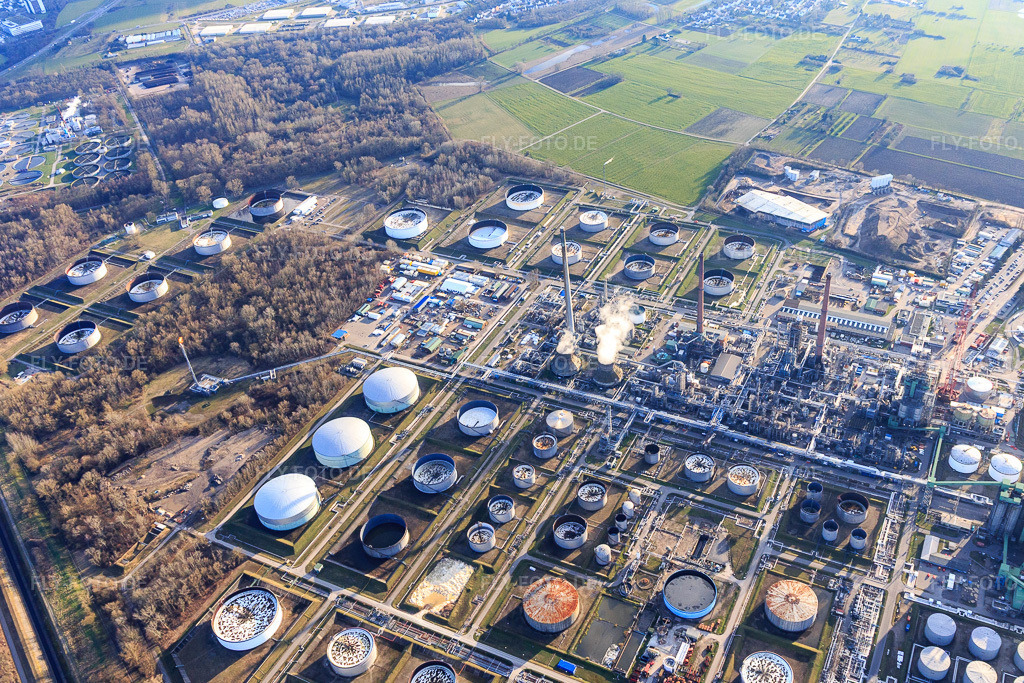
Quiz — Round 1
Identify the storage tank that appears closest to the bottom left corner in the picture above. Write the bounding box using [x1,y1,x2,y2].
[210,586,282,651]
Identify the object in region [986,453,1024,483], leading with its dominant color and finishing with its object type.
white storage tank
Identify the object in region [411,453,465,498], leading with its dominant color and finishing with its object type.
blue storage tank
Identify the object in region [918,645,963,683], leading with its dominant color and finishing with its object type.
white storage tank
